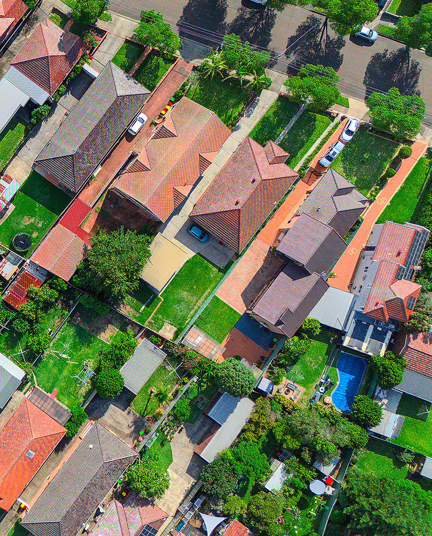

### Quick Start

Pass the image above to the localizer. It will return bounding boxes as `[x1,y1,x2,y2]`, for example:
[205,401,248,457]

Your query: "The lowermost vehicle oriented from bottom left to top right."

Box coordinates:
[316,140,346,171]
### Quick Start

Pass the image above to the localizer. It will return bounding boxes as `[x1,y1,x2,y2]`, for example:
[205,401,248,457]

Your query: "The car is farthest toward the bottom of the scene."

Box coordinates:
[184,221,210,243]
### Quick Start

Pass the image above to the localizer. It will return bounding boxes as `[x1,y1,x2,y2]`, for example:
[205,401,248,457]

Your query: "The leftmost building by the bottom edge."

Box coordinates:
[0,399,65,511]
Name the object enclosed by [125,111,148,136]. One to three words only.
car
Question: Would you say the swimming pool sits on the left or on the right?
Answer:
right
